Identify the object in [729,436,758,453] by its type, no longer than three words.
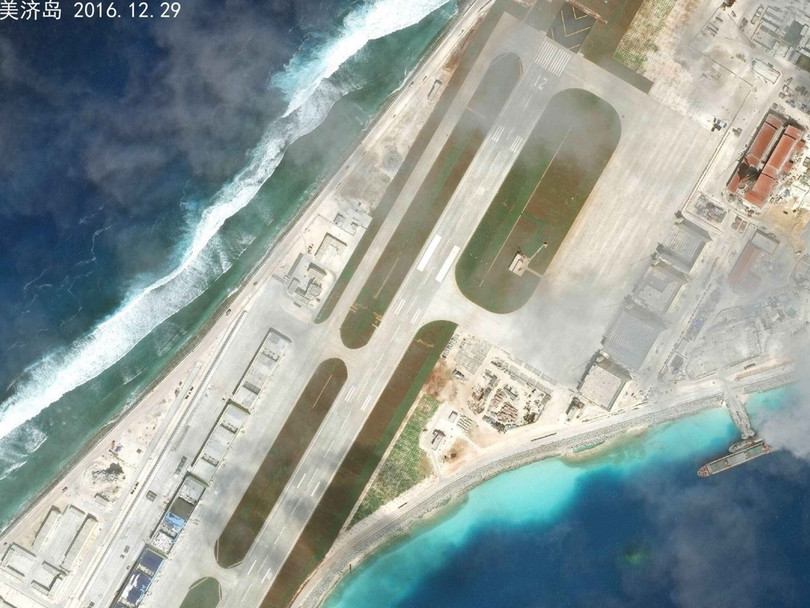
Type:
ship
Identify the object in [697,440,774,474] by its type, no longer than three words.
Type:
ship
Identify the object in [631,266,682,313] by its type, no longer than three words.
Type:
hangar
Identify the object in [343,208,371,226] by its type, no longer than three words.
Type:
building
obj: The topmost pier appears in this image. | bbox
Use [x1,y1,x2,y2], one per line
[729,386,753,437]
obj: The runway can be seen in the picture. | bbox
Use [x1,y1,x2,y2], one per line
[215,33,574,608]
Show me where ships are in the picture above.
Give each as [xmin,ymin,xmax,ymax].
[729,436,758,453]
[697,440,774,474]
